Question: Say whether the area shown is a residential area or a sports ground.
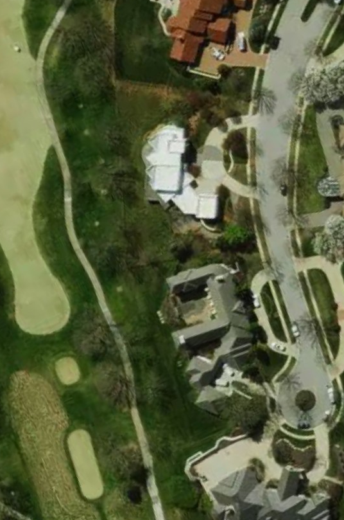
residential area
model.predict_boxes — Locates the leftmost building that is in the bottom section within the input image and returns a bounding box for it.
[164,258,255,418]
